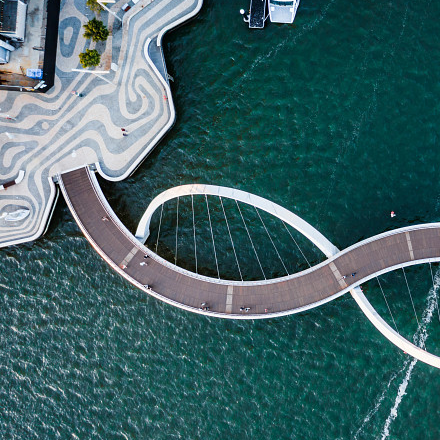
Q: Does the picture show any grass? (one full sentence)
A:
No, there's no grass in this view.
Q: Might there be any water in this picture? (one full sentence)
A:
Yes, there's water in this view.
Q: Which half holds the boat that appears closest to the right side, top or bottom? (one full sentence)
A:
The boat that appears closest to the right side is in the top half of the image.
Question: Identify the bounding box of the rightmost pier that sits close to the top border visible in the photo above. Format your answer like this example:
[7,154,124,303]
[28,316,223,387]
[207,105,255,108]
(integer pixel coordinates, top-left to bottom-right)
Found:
[250,0,266,29]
